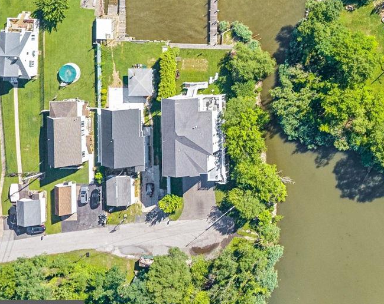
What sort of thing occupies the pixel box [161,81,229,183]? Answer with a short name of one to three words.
house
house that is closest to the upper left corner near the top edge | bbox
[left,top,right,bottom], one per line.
[0,11,46,85]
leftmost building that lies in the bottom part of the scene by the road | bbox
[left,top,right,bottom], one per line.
[17,199,46,229]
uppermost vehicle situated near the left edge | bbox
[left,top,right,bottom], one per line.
[11,183,24,201]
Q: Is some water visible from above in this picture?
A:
Yes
